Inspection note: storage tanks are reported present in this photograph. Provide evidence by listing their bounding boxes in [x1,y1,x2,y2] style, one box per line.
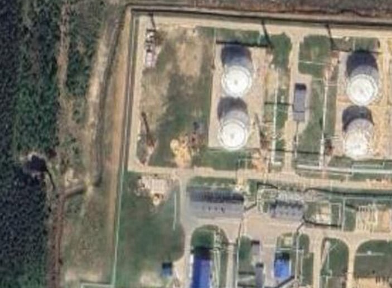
[345,64,381,105]
[216,111,250,150]
[341,117,375,158]
[221,56,254,96]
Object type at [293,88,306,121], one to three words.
shed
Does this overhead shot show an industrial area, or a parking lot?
industrial area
